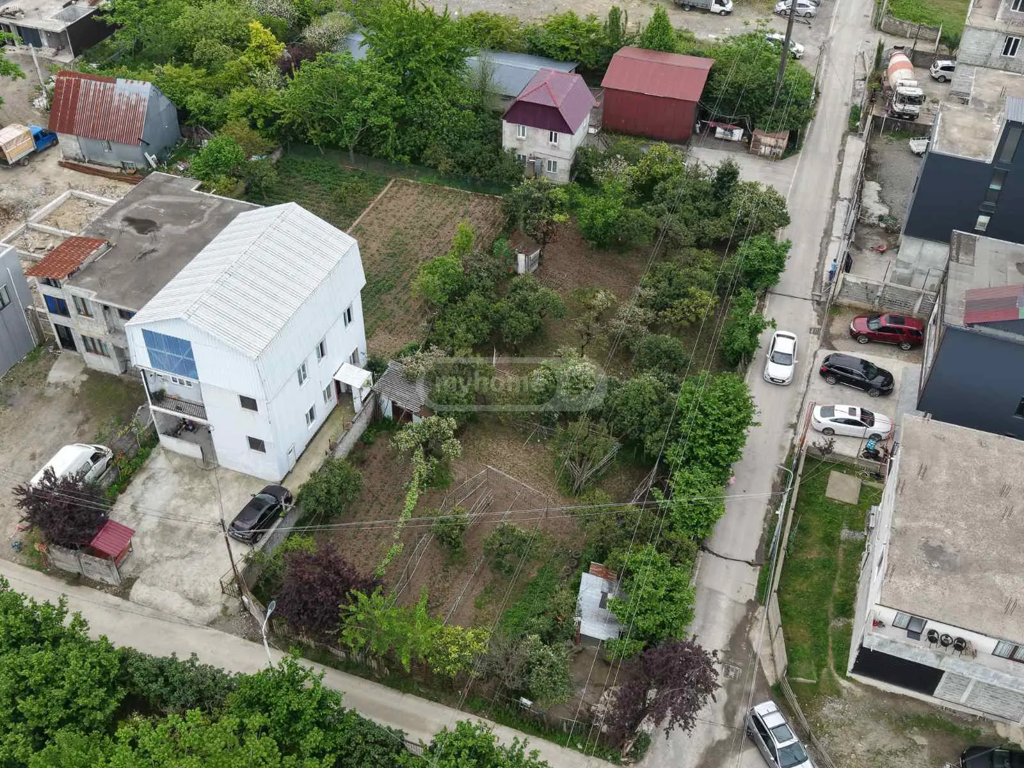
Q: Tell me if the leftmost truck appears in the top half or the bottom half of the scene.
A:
top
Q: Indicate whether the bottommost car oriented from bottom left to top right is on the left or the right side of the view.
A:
left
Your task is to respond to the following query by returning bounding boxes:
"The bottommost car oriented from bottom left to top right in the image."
[220,479,295,547]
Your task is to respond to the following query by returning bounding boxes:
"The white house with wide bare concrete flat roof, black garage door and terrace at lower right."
[837,413,1024,736]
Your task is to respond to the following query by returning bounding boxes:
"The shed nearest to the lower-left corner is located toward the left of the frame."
[80,516,133,569]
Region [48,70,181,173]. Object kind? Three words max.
house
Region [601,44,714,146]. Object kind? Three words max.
barn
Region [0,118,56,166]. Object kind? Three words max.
truck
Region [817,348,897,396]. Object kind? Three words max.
car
